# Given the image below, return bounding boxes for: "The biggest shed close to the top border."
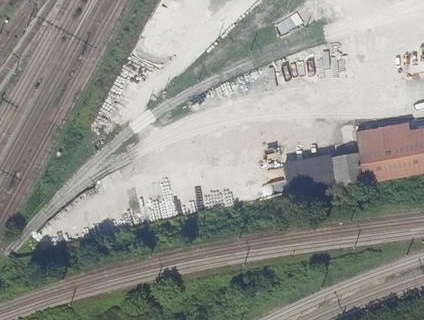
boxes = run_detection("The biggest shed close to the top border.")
[276,12,304,35]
